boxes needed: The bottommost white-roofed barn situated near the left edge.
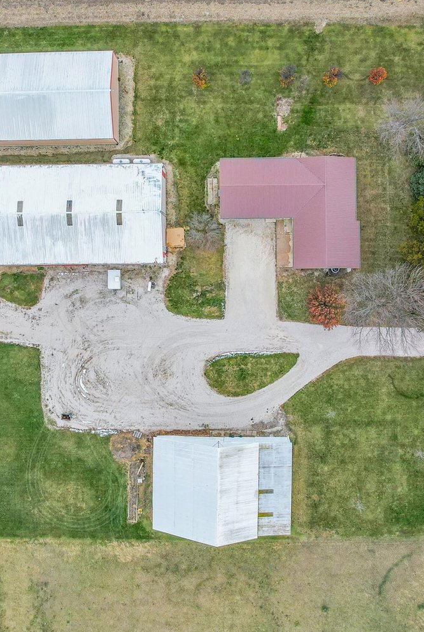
[0,163,167,266]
